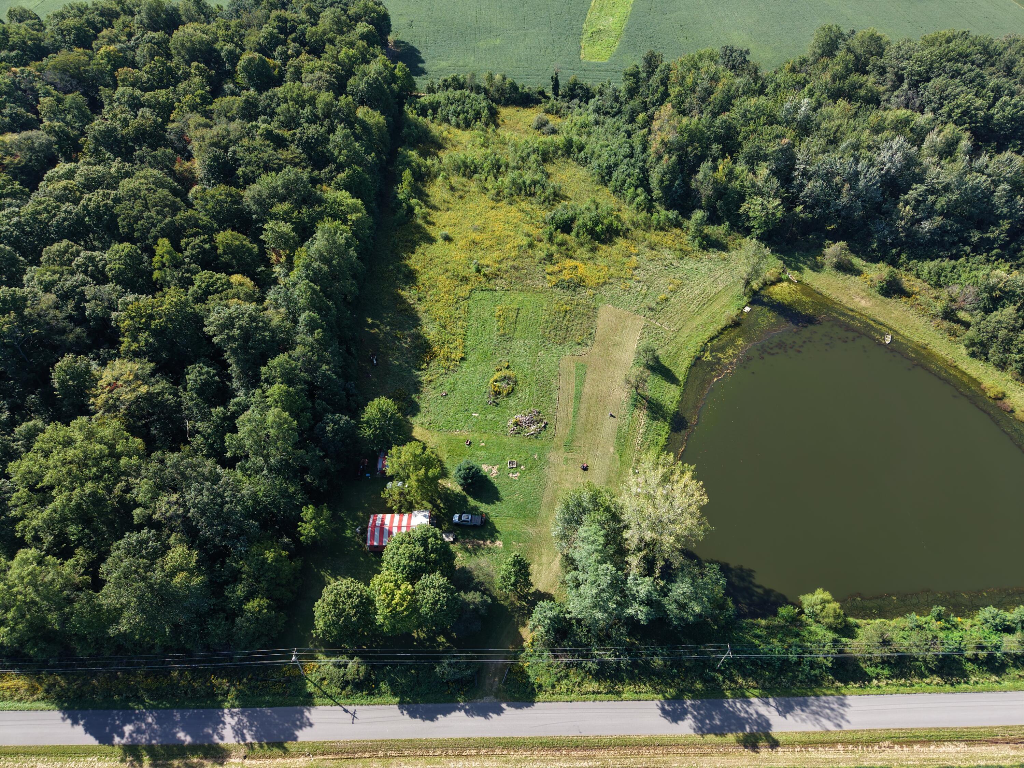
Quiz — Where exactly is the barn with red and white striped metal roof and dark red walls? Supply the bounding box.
[367,508,430,551]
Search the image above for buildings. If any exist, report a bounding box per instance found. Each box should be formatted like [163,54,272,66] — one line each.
[376,451,401,475]
[367,508,430,551]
